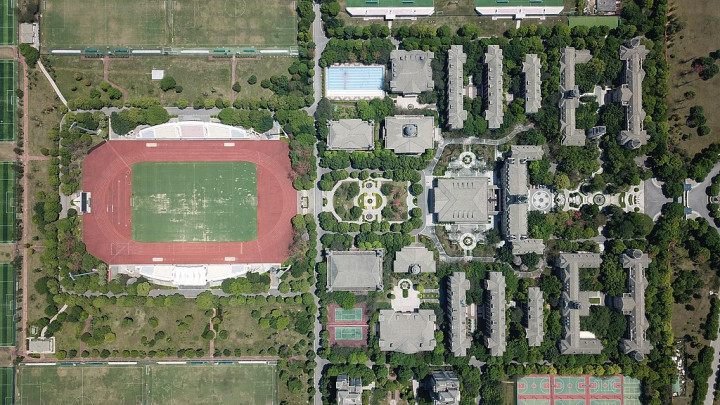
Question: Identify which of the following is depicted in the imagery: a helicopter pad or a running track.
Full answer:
The one in the frame is a running track.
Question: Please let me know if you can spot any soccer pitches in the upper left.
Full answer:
Yes, a soccer pitch appears in the upper left.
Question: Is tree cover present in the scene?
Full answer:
Yes, some tree cover is visible.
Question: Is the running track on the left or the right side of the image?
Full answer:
The running track is on the left side of the image.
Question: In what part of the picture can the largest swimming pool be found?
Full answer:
The largest swimming pool is located in the top region of the scene.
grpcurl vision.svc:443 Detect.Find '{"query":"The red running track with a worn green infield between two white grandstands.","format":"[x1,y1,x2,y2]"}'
[82,141,297,264]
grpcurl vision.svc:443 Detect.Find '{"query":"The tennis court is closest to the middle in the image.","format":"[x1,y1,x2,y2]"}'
[328,306,368,324]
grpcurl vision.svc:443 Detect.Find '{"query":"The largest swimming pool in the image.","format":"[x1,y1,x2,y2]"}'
[325,64,385,98]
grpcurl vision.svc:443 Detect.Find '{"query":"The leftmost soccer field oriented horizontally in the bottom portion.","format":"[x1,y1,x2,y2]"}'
[16,364,147,405]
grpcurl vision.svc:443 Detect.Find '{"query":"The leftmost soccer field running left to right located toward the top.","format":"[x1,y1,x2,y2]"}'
[40,0,168,49]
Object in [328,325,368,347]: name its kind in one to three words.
tennis court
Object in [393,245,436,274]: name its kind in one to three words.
building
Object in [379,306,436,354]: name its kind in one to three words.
building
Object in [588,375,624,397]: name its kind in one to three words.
basketball court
